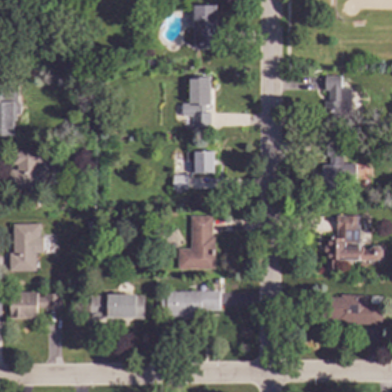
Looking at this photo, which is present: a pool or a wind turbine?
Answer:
pool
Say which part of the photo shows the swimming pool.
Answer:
top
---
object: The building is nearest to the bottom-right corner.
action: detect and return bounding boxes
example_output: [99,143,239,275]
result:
[332,296,386,326]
